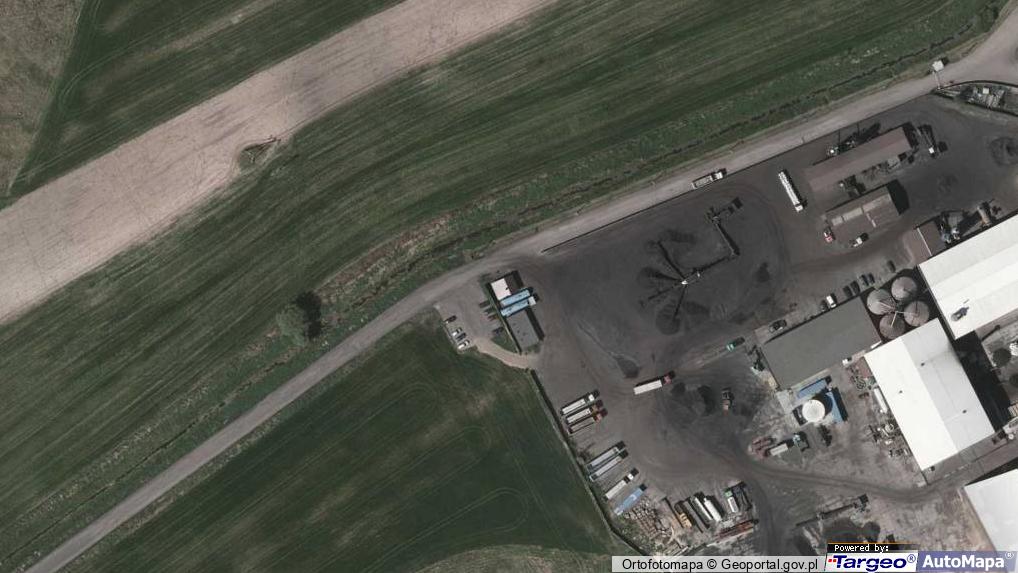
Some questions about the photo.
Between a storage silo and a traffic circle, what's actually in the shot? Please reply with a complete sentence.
I can see a storage silo in this picture.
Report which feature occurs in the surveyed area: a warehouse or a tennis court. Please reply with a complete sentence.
It is a warehouse that can be seen here.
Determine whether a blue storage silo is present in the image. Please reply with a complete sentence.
No, there appears to be no blue storage silo in this shot.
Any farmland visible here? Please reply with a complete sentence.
Yes, farmland can be seen from above here.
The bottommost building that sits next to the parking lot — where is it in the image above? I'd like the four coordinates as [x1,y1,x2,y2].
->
[508,311,539,350]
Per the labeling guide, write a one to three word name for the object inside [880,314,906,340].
silo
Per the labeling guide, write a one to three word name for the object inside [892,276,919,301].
silo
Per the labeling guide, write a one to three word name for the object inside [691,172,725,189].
vehicle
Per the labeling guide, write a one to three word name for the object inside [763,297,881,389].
building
